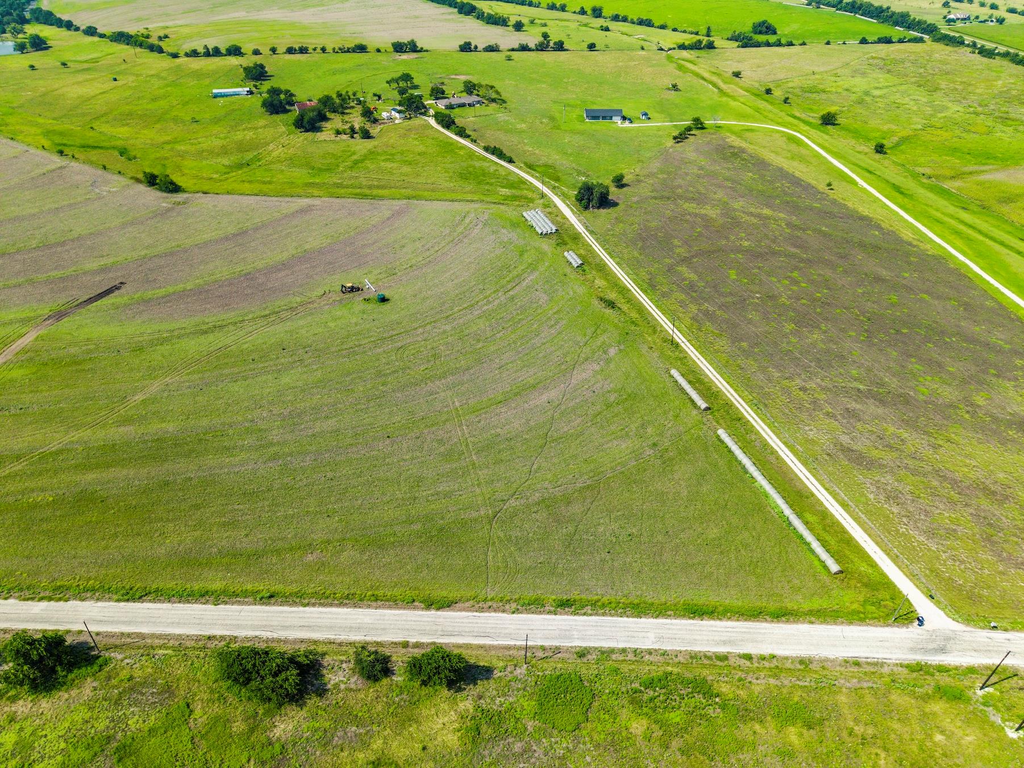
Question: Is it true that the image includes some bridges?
No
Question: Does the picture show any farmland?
Yes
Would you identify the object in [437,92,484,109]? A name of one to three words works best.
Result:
house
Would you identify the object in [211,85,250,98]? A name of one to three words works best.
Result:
barn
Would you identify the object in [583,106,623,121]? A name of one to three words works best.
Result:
house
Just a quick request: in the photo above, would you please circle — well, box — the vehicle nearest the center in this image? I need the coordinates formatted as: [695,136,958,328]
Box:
[339,281,368,294]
